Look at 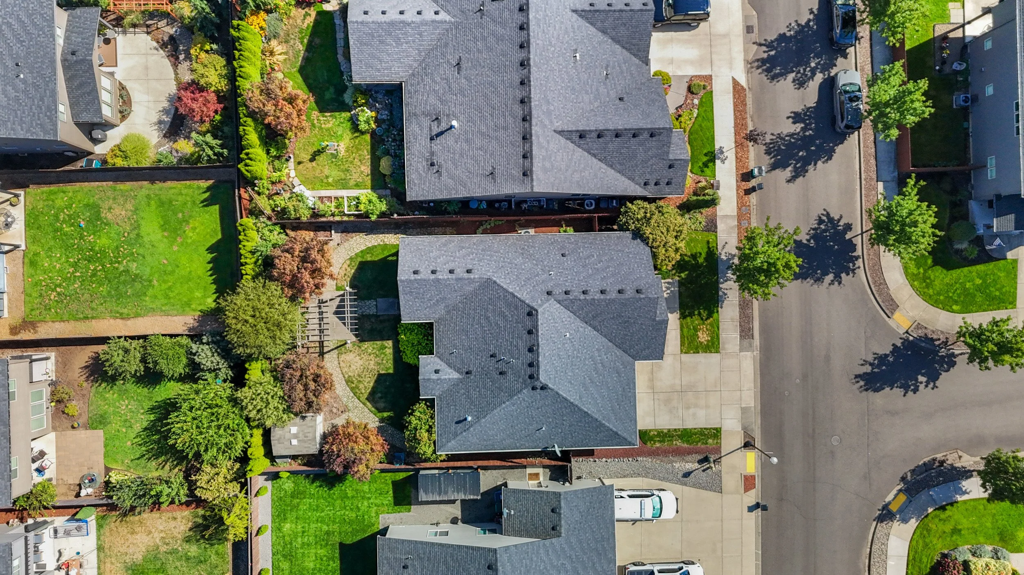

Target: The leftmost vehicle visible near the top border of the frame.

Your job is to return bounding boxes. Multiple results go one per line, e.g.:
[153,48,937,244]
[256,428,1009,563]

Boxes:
[653,0,710,25]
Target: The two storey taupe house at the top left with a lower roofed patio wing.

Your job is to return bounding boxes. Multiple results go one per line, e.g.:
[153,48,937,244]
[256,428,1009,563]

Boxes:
[0,0,119,153]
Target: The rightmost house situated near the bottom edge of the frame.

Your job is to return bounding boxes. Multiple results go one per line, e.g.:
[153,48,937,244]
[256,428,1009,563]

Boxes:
[376,477,618,575]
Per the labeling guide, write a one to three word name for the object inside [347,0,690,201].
house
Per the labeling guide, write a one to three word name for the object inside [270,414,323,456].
shed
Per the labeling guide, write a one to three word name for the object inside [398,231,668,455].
house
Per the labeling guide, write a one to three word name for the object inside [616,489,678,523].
car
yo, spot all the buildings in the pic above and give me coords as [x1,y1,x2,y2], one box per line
[0,518,57,575]
[0,0,119,153]
[270,414,323,456]
[398,231,668,455]
[0,353,52,508]
[347,0,690,201]
[968,0,1024,235]
[376,477,618,575]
